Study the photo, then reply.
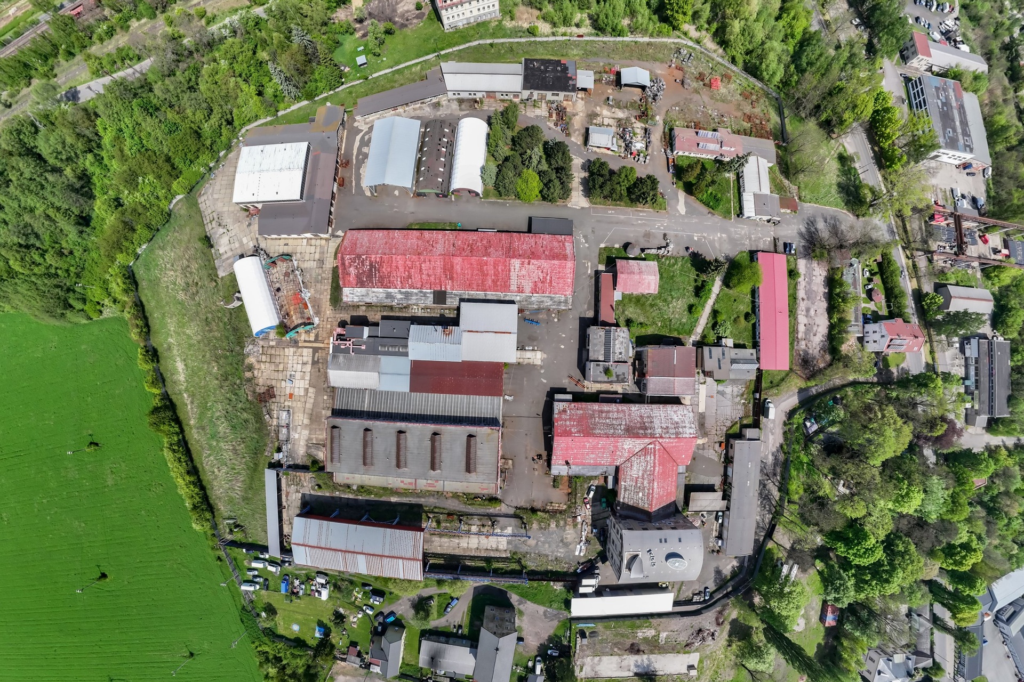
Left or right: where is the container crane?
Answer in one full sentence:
You can find the container crane on the right side of the picture.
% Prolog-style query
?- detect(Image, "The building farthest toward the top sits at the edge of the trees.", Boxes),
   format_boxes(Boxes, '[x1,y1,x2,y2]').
[437,0,499,32]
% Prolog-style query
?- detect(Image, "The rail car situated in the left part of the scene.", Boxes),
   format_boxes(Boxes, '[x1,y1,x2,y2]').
[71,7,92,23]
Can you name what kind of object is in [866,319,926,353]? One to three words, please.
house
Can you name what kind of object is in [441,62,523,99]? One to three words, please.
shed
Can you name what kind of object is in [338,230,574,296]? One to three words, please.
building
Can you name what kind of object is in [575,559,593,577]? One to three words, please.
vehicle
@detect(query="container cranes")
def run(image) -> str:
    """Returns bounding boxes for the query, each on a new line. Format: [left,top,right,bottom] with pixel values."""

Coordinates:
[904,207,1024,271]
